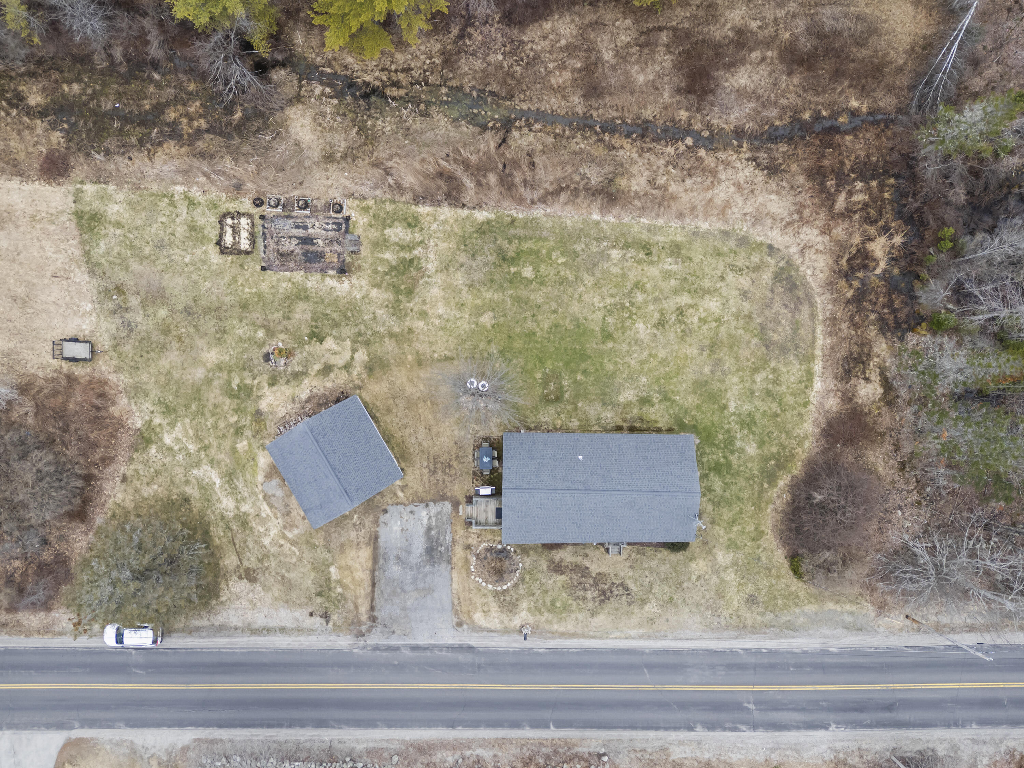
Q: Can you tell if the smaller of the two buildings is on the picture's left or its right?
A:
left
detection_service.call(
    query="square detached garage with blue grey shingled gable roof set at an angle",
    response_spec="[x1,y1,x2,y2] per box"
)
[267,394,406,527]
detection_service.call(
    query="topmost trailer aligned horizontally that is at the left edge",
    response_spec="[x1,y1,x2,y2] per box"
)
[47,337,104,363]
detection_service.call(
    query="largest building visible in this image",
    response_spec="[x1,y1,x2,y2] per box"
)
[502,430,701,543]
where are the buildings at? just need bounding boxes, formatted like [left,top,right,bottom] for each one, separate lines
[502,430,701,543]
[267,394,406,527]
